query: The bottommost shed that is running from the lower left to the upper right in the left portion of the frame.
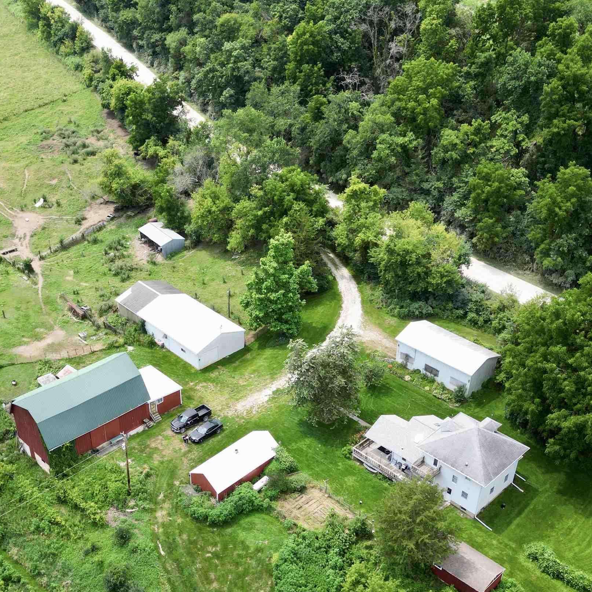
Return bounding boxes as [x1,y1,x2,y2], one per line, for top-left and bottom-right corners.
[189,430,281,498]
